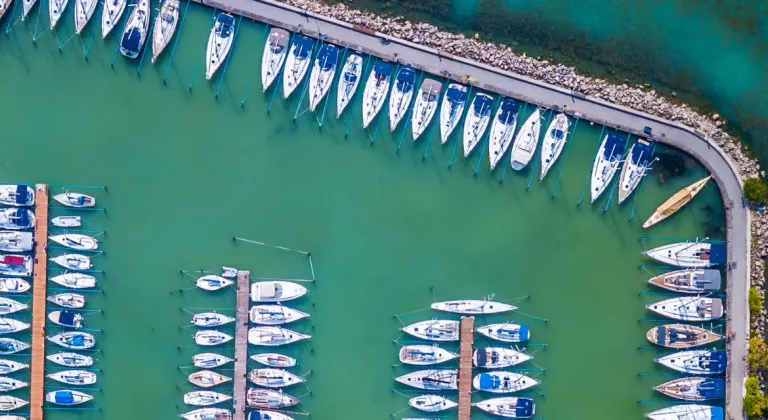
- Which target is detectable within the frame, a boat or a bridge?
boat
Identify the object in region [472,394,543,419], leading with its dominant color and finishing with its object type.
white boat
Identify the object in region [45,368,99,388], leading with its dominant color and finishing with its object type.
white boat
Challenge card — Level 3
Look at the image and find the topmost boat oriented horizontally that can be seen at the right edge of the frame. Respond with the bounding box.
[641,238,733,269]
